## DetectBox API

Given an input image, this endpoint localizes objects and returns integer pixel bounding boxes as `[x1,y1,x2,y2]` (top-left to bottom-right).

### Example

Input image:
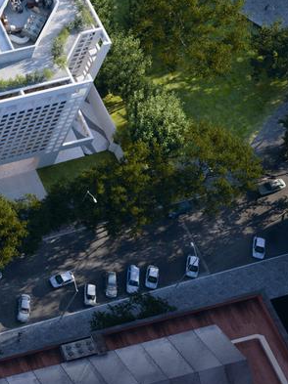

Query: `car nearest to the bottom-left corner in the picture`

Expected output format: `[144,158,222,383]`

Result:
[15,293,33,323]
